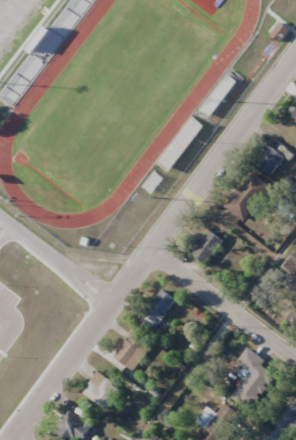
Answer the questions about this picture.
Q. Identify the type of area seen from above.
sports ground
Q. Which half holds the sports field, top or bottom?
top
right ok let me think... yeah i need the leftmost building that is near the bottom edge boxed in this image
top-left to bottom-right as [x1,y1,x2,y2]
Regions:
[56,410,90,439]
